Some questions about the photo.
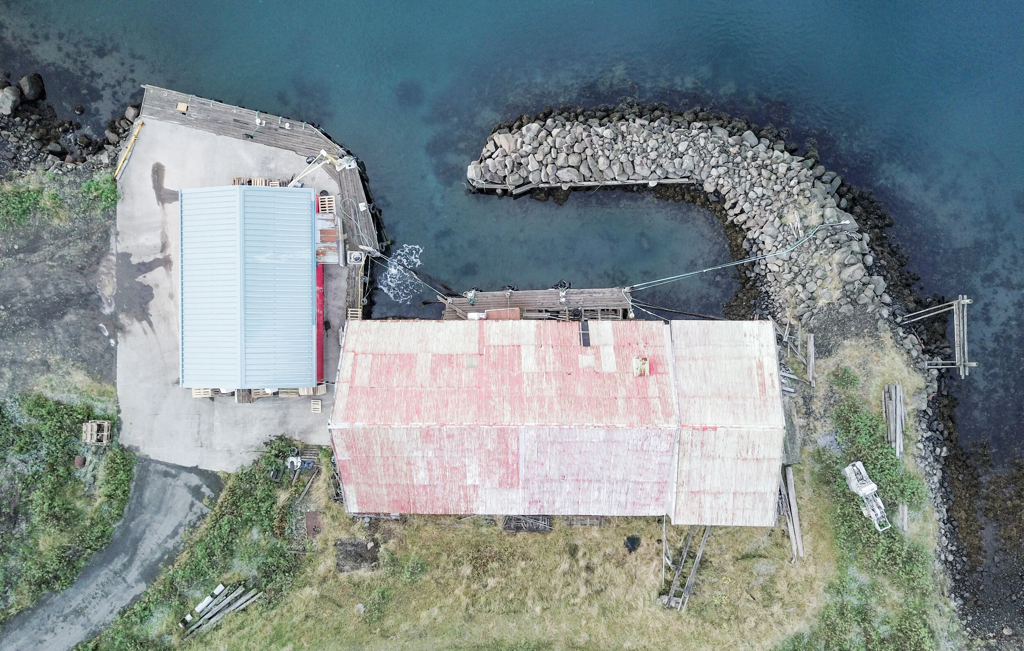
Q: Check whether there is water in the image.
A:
Yes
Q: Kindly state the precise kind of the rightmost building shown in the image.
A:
warehouse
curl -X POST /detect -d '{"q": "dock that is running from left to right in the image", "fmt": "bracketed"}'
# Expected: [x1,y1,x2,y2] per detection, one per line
[436,285,647,321]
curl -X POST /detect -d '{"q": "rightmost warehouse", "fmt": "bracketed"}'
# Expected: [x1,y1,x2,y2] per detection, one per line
[328,307,804,527]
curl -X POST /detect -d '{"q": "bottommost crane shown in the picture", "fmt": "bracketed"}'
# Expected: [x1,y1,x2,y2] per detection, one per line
[286,146,342,187]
